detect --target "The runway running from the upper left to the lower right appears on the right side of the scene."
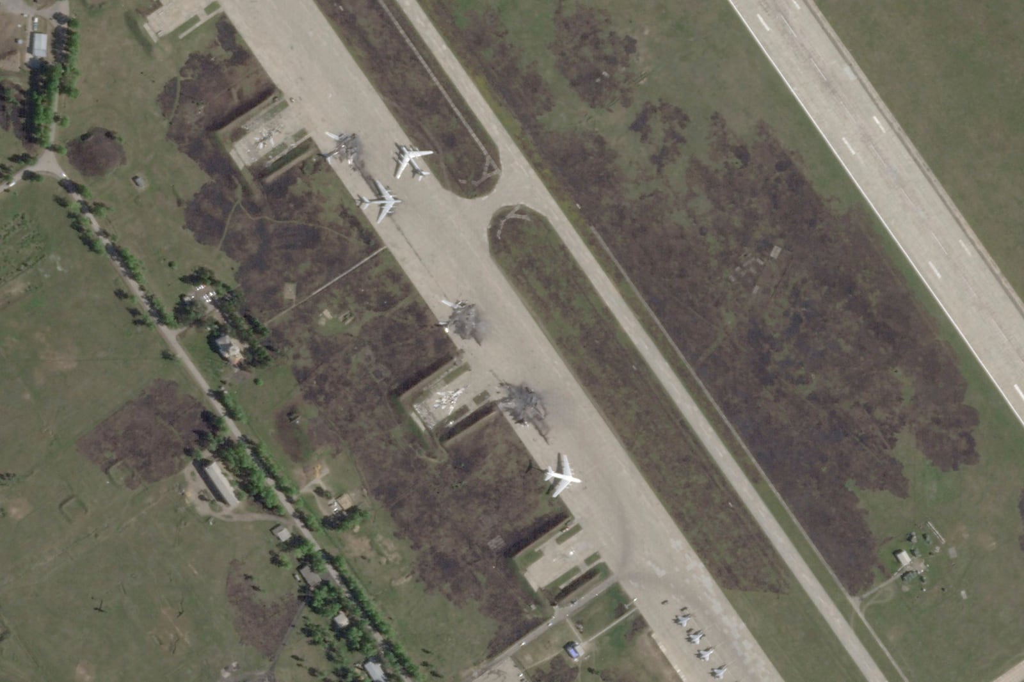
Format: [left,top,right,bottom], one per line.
[729,0,1024,424]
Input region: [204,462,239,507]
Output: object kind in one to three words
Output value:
building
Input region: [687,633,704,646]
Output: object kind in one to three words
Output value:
airplane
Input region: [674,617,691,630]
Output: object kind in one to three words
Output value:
airplane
